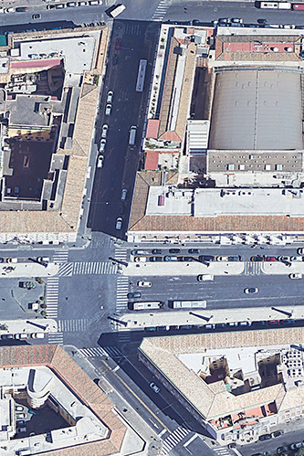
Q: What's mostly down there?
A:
buildings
